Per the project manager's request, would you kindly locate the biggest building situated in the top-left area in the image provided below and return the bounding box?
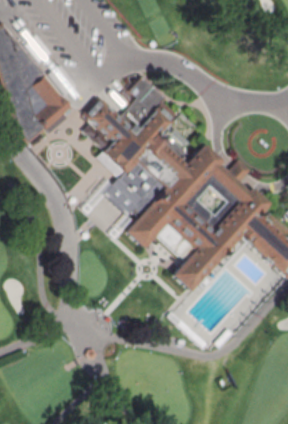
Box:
[28,77,70,134]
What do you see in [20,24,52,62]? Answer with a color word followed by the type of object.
white tent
